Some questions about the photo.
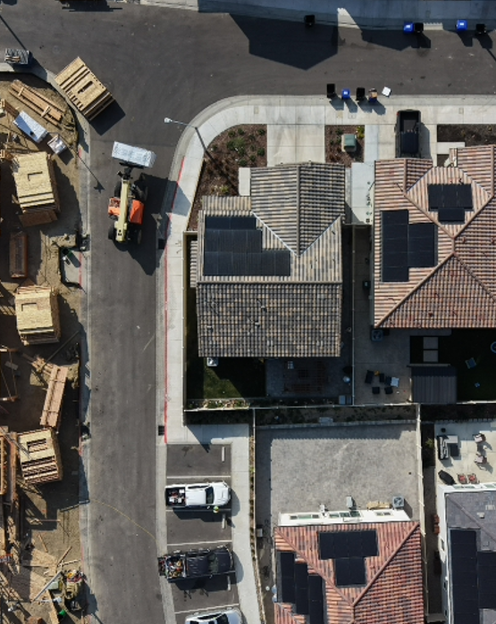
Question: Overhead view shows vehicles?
Yes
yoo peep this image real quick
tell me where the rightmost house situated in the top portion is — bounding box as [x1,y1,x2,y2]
[371,144,496,329]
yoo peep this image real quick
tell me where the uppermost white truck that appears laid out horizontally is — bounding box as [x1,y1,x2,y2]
[164,481,233,510]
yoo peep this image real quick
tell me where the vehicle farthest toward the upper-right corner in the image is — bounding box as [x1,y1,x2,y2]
[395,109,422,158]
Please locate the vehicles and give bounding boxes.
[164,481,233,510]
[187,606,244,624]
[395,109,422,158]
[108,160,144,241]
[162,547,238,581]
